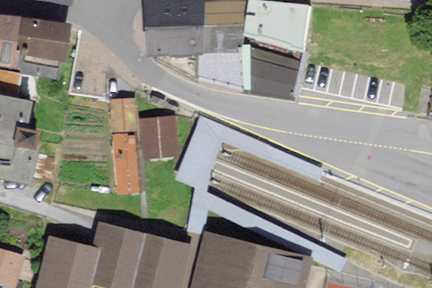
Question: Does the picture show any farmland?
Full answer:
No, the picture contains no farmland.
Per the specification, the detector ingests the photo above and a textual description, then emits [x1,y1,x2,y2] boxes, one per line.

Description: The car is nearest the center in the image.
[164,98,180,110]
